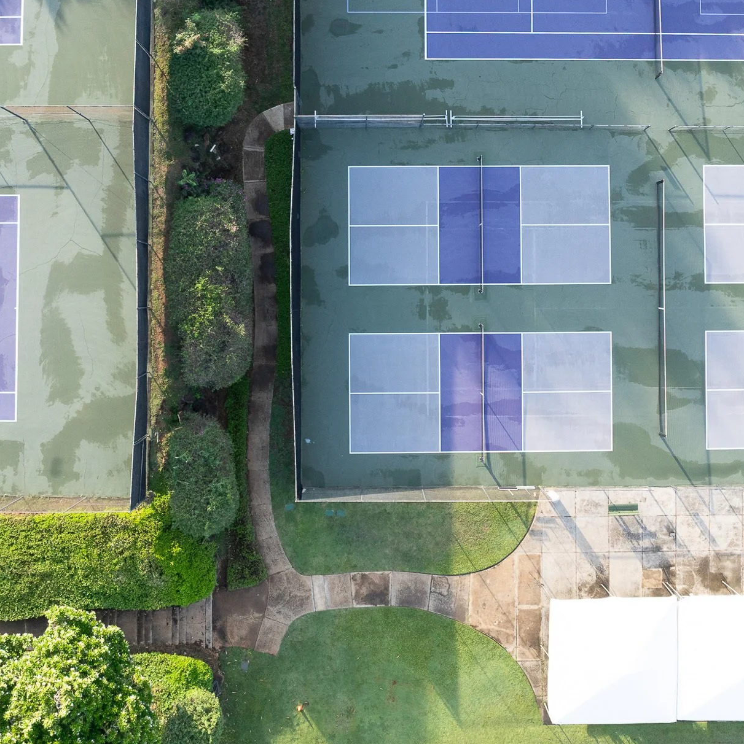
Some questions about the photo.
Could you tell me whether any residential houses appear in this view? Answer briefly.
No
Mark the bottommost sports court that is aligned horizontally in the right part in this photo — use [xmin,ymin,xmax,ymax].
[348,332,613,455]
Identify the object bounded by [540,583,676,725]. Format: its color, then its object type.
white tent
